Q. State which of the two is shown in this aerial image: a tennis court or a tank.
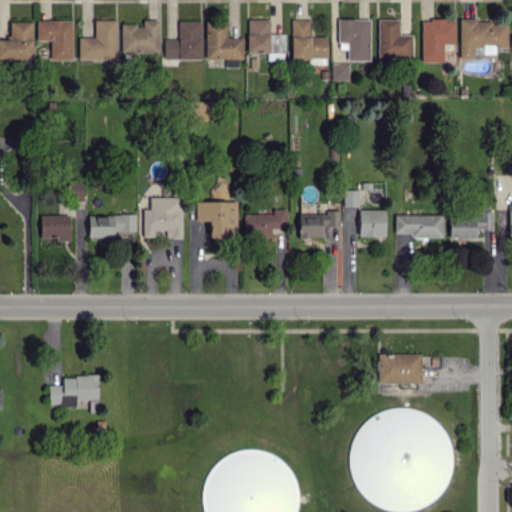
tank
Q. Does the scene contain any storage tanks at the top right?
No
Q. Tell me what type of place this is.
residential area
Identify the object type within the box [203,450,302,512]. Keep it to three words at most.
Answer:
storage tank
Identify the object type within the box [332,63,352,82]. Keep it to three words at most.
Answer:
building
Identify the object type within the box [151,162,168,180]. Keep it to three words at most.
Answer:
swimming pool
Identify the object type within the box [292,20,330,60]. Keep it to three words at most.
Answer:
house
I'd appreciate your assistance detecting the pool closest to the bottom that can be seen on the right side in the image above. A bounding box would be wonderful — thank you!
[302,186,320,204]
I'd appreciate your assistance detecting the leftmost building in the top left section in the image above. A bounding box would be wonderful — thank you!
[0,22,35,61]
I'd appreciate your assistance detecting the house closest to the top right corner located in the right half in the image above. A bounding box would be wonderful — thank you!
[461,20,512,59]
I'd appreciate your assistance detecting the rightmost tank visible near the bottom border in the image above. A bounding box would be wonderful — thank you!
[350,408,455,512]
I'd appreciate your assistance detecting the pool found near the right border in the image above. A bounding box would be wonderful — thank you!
[464,60,495,74]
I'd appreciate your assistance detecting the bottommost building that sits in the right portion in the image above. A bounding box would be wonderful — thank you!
[379,354,423,384]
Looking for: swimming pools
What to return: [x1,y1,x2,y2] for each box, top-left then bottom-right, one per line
[151,162,168,180]
[302,186,320,204]
[464,60,495,74]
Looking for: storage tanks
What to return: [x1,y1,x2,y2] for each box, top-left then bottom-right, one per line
[203,450,302,512]
[350,408,455,512]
